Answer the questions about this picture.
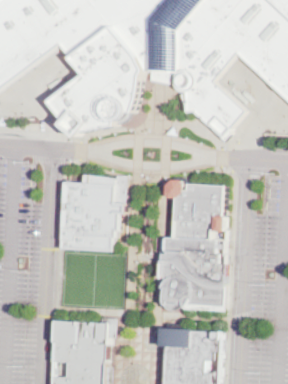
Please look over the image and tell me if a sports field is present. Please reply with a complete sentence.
Yes, I can see a sports field in this picture.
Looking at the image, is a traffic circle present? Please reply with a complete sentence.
No, there's no traffic circle here.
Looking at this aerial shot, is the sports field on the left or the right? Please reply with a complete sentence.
You can find the sports field on the left side of the picture.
